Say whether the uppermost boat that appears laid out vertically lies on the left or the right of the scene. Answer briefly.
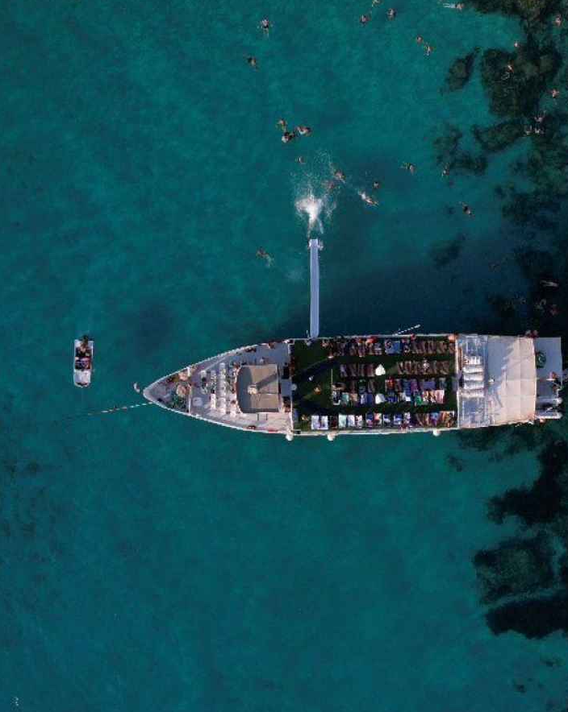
left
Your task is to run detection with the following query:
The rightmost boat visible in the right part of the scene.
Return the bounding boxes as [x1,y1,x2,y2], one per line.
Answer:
[536,399,563,422]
